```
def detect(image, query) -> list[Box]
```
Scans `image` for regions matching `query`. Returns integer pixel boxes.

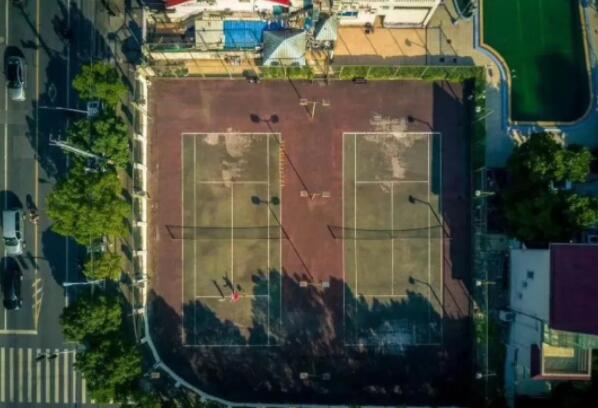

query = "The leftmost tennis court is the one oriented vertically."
[182,132,281,346]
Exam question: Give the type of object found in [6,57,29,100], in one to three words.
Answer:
car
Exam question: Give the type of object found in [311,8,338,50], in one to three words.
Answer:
building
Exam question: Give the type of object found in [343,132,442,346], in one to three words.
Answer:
tennis court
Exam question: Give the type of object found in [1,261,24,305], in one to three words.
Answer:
car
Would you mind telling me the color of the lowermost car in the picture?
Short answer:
black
